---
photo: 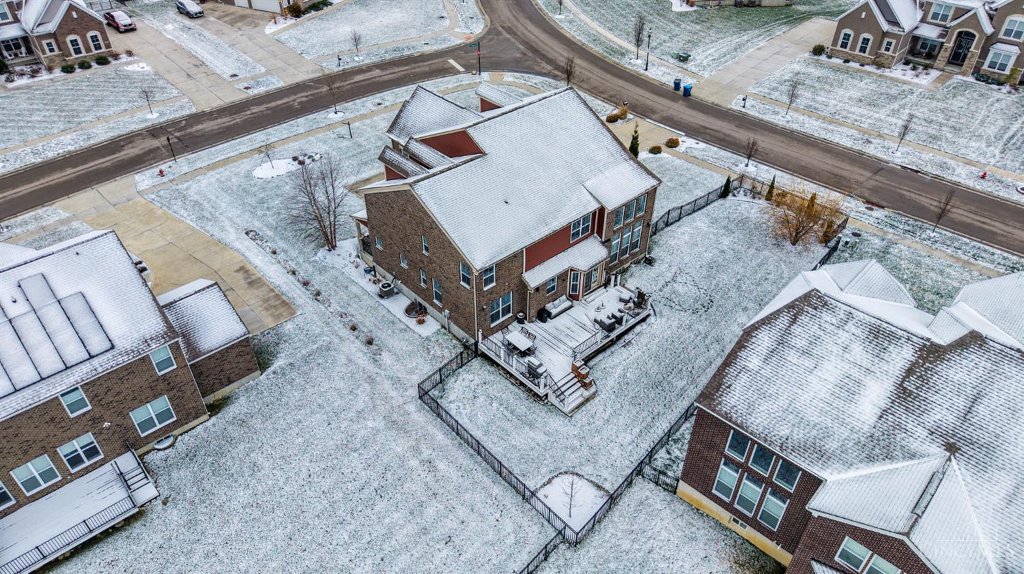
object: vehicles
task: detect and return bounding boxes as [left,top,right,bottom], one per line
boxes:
[177,0,202,16]
[102,8,135,31]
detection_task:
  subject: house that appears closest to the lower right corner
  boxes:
[673,259,1024,574]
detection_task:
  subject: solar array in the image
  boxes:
[0,271,113,397]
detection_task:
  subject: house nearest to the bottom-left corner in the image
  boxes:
[0,227,262,512]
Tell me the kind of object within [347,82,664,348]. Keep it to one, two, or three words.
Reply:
house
